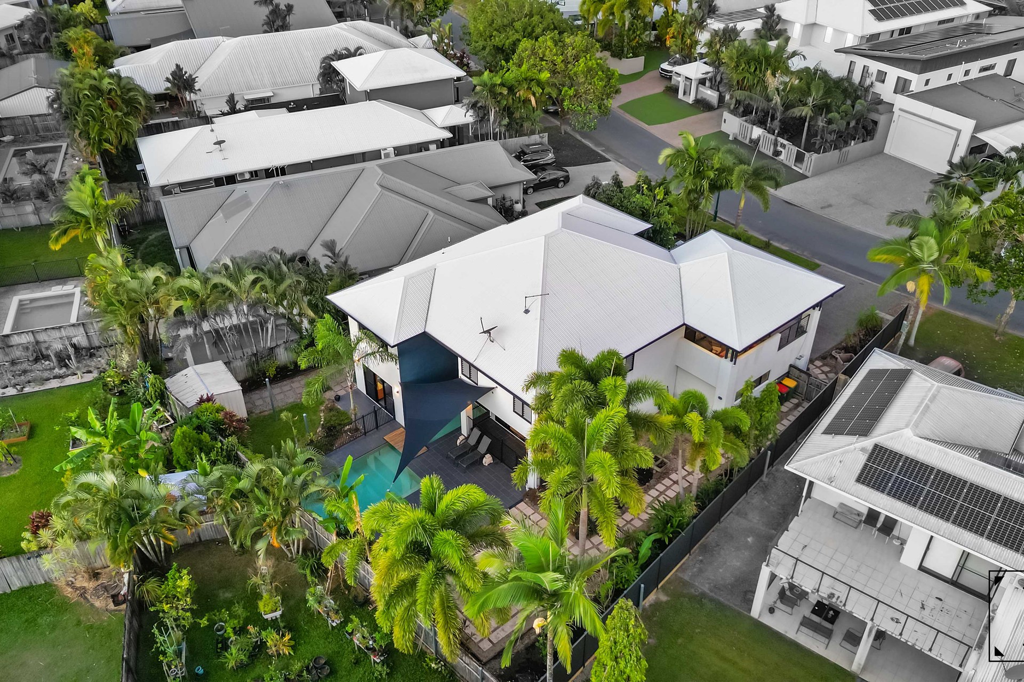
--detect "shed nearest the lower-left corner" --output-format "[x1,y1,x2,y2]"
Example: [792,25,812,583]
[168,359,246,427]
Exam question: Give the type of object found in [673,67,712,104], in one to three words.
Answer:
building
